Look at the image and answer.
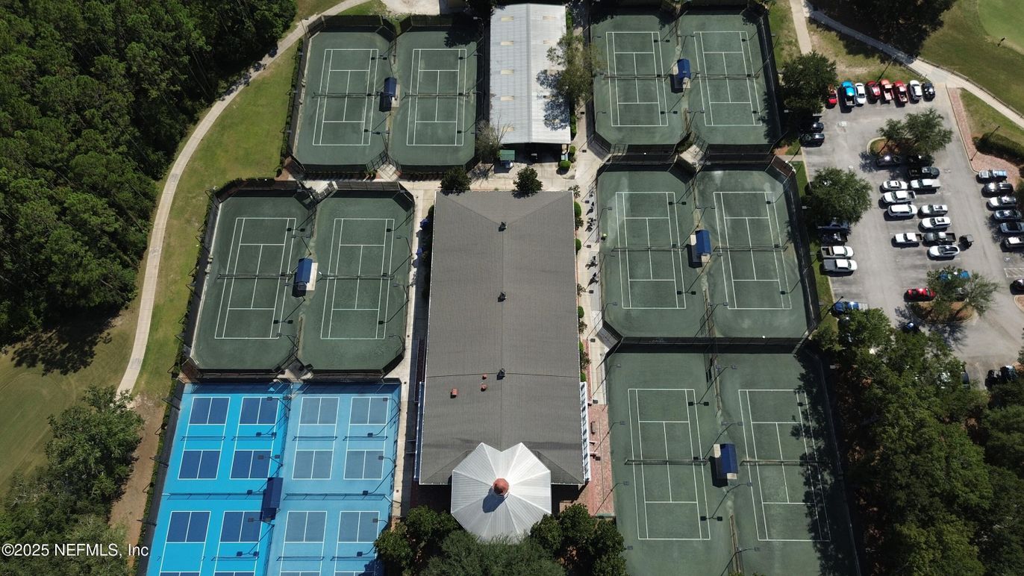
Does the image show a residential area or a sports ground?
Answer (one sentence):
What you see here is a sports ground.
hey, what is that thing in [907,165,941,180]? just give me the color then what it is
black vehicle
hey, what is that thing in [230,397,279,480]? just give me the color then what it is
blue sports court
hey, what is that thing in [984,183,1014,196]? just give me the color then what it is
black vehicle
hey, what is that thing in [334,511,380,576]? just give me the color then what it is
blue sports court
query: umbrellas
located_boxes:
[418,218,431,231]
[413,247,427,260]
